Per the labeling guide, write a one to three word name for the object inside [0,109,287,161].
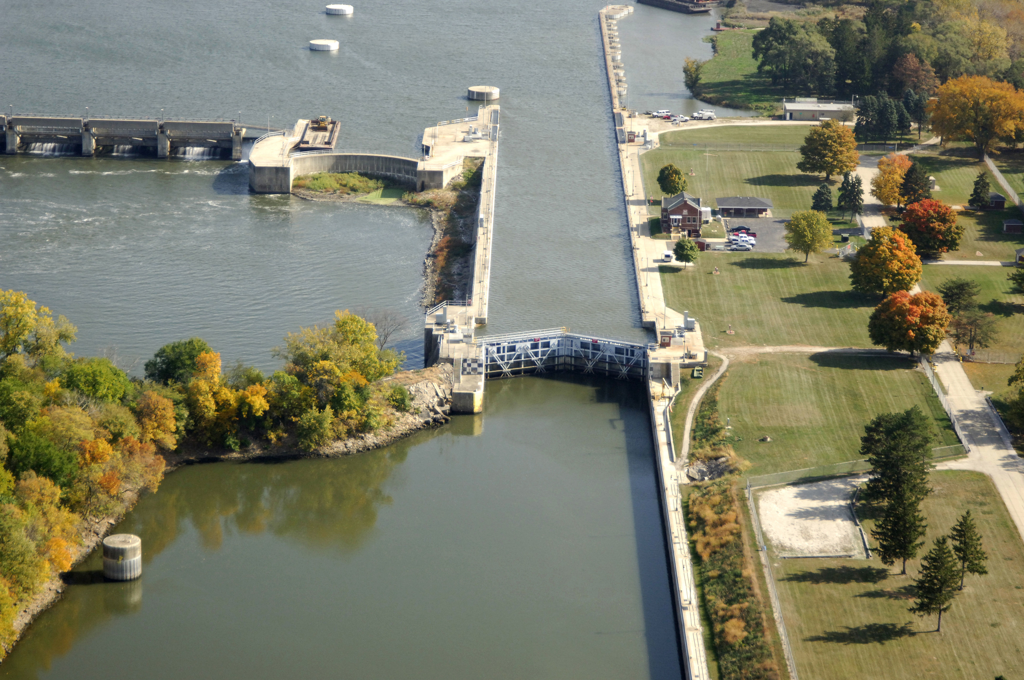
dam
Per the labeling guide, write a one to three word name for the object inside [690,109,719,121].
vehicle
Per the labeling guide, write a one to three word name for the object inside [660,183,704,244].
house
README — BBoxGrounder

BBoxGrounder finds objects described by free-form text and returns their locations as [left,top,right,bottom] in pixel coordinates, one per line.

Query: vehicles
[670,114,690,122]
[730,232,754,241]
[730,225,751,231]
[731,243,752,251]
[732,237,756,247]
[652,110,670,118]
[660,112,677,120]
[690,109,719,121]
[733,228,757,237]
[315,113,327,129]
